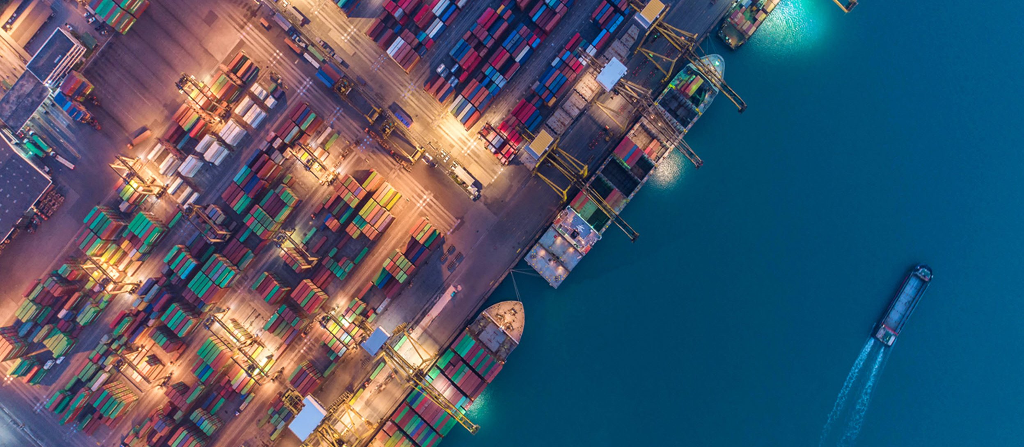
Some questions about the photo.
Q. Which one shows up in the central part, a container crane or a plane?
container crane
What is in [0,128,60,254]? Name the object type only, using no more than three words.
building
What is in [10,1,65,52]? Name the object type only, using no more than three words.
shed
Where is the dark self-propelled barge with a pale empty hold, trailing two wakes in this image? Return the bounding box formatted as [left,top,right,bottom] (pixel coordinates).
[872,264,934,347]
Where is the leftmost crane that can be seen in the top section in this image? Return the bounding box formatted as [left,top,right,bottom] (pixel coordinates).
[108,154,168,197]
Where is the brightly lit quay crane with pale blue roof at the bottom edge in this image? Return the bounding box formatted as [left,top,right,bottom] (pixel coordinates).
[293,389,386,447]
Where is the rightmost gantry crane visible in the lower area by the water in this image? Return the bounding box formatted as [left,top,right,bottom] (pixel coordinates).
[356,317,480,438]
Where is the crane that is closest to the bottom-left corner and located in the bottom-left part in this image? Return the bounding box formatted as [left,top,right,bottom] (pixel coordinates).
[111,346,171,393]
